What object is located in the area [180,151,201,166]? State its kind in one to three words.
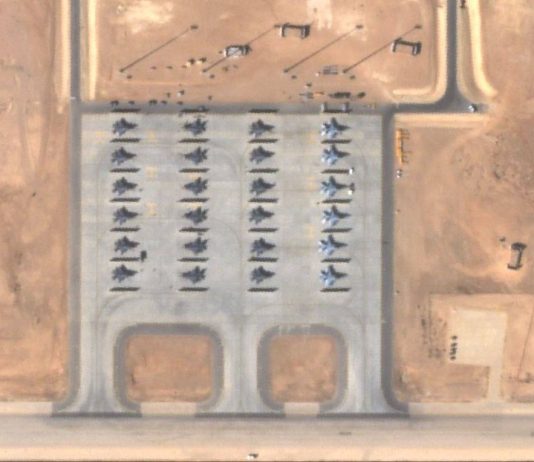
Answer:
airplane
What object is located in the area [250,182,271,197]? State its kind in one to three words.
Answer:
airplane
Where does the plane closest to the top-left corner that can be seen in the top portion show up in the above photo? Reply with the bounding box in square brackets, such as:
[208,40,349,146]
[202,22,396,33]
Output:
[112,121,132,137]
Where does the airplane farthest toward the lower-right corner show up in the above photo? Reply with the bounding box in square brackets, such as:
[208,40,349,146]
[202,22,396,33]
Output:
[318,270,341,287]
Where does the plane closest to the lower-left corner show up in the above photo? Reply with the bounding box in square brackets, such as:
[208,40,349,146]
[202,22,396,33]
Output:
[113,270,134,285]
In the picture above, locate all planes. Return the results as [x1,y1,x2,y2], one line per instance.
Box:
[112,121,132,137]
[180,183,201,198]
[321,211,345,227]
[250,124,270,139]
[181,242,201,257]
[321,124,344,140]
[113,270,134,285]
[250,182,271,197]
[114,241,135,257]
[180,212,201,226]
[180,123,201,138]
[251,242,271,257]
[318,241,342,257]
[321,149,344,166]
[250,271,271,286]
[250,211,270,225]
[319,182,342,199]
[114,212,135,226]
[112,183,133,198]
[318,270,341,287]
[250,150,271,165]
[179,271,200,286]
[180,151,201,166]
[111,152,132,167]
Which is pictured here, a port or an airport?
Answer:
airport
